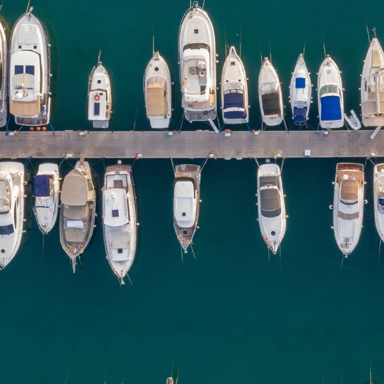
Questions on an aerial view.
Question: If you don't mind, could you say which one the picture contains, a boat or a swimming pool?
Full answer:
Of the two, only a boat appears.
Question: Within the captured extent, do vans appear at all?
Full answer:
No, the frame has no van in it.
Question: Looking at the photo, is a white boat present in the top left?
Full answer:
Yes, the scene does show a white boat in the top left.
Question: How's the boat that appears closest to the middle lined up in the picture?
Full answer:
The boat that appears closest to the middle has been laid out from top to bottom relative to the frame.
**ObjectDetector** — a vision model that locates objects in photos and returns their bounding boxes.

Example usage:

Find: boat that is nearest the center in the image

[172,165,200,255]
